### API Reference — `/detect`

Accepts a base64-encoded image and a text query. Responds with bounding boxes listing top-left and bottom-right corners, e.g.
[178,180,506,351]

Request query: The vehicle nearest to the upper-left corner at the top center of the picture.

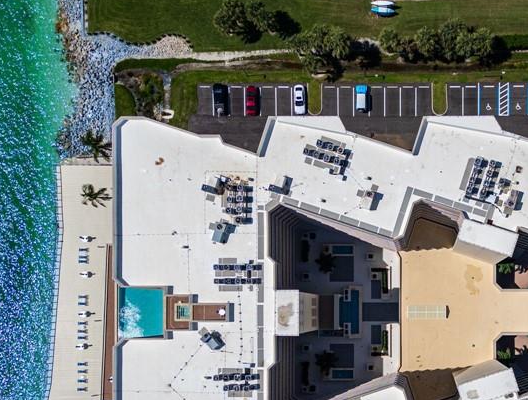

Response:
[213,83,228,118]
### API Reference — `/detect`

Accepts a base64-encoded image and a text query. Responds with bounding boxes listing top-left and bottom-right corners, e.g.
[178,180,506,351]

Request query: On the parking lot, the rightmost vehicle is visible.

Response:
[355,85,368,113]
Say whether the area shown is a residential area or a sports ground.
residential area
